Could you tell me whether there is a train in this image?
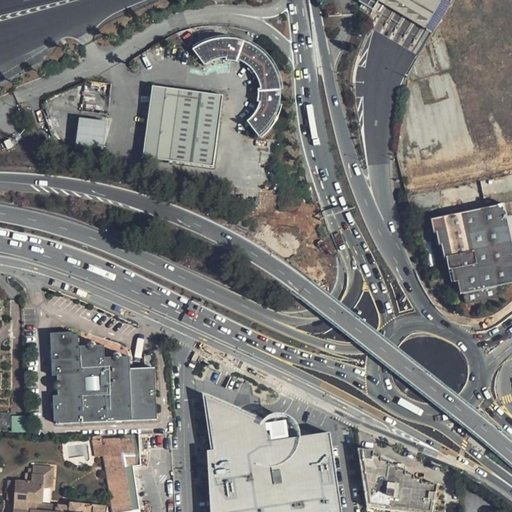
No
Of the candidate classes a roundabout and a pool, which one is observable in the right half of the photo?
roundabout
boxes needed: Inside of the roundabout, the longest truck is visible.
[396,396,426,417]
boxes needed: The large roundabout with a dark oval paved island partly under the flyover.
[368,311,490,425]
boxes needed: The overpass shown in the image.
[0,172,512,467]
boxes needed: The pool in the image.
[62,440,94,466]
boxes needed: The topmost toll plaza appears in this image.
[363,0,452,76]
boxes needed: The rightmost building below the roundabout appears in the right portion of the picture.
[356,447,436,512]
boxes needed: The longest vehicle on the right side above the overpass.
[306,104,320,146]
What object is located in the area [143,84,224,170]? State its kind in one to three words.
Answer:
building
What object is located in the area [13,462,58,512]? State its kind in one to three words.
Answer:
house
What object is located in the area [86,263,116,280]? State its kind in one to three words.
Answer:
vehicle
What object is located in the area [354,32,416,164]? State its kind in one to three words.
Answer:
toll station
